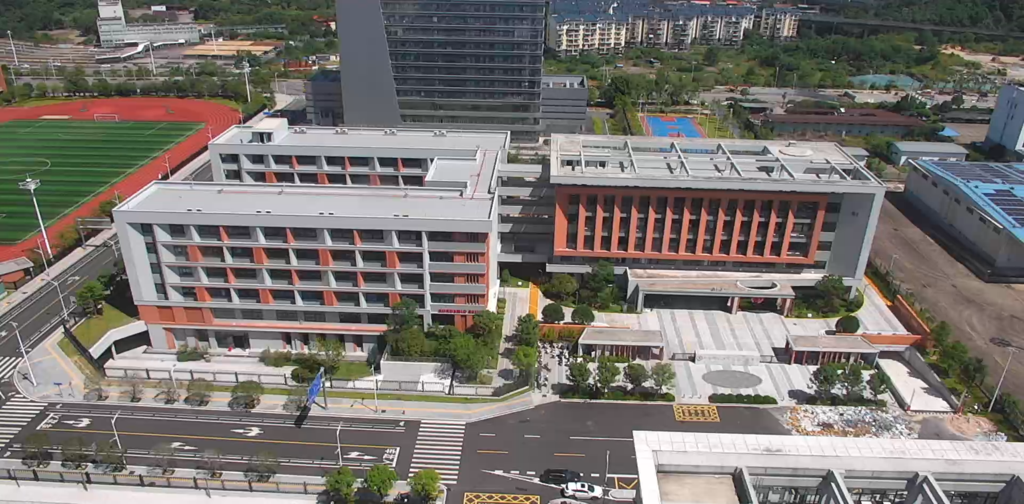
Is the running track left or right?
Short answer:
left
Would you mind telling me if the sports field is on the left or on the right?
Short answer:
left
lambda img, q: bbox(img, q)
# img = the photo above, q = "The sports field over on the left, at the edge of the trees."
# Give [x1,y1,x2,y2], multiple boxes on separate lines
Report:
[0,118,205,242]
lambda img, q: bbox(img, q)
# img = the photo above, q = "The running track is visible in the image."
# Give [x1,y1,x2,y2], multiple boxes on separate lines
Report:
[0,97,236,262]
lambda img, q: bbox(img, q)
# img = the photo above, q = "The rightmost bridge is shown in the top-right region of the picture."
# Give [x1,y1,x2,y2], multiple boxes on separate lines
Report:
[807,16,1024,58]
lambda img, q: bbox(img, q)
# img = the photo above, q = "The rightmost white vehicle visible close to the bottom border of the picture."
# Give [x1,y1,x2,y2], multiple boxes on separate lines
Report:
[561,477,603,501]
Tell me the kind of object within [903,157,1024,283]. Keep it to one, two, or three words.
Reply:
warehouse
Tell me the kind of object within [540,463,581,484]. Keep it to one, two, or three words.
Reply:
car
